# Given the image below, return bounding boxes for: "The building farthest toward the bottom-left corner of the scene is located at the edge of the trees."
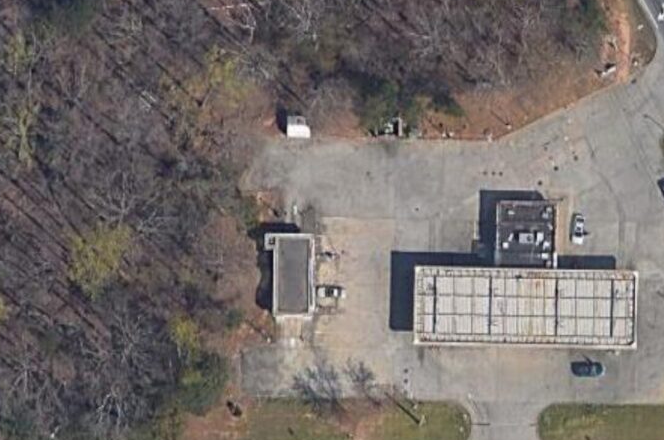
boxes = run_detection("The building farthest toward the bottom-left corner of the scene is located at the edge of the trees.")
[264,234,316,324]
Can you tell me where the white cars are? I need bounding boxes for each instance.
[572,214,589,243]
[317,286,346,299]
